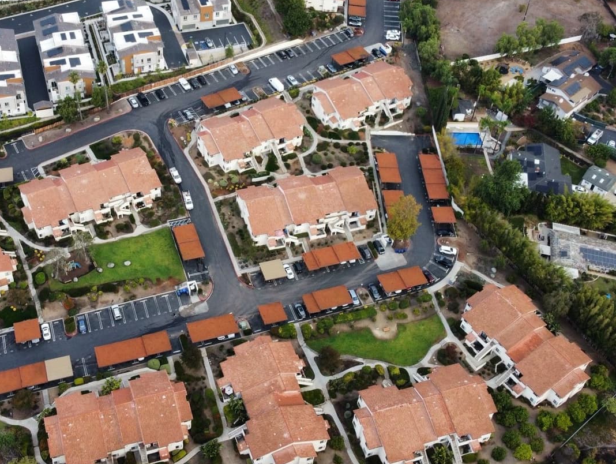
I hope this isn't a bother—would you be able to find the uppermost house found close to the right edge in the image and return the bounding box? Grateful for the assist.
[524,44,593,82]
